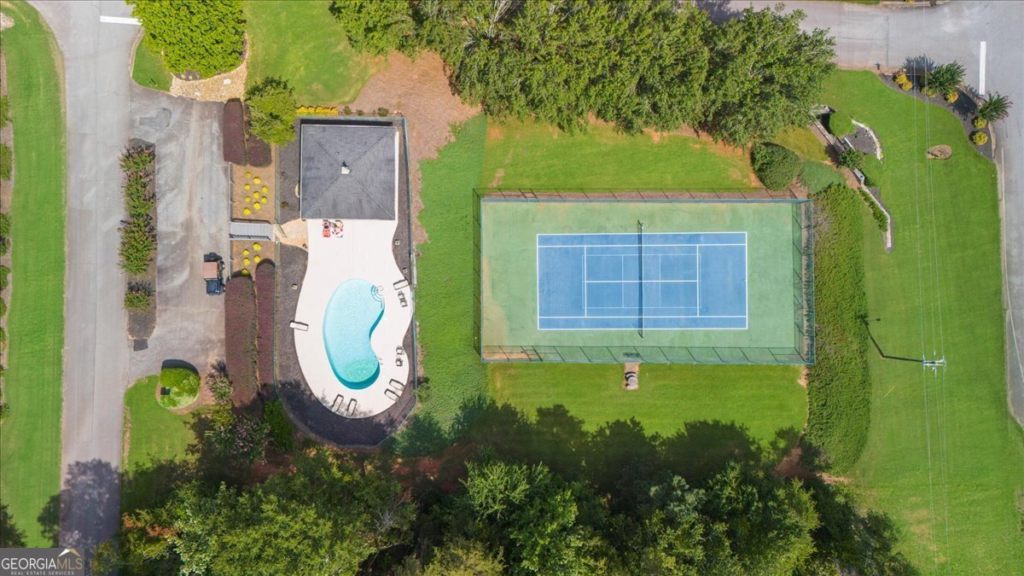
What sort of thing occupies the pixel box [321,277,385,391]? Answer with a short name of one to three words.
swimming pool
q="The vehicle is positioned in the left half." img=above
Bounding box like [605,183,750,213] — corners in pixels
[206,259,229,297]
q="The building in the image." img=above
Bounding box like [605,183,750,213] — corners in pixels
[300,124,397,221]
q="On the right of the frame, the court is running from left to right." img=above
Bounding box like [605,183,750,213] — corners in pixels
[483,203,802,361]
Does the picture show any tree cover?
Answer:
Yes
